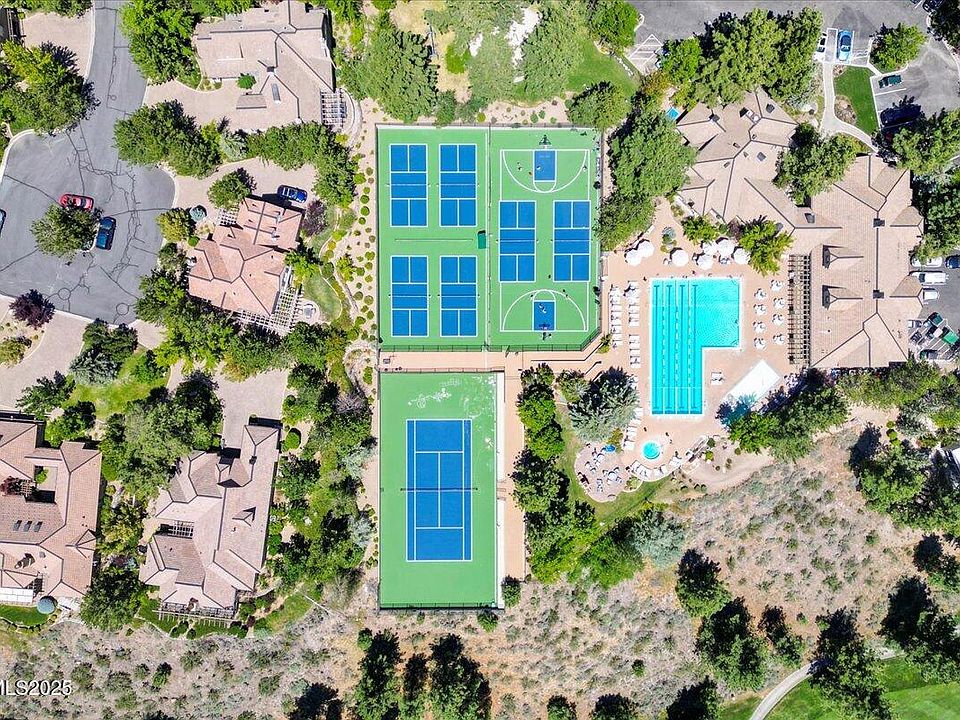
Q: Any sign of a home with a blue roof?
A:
No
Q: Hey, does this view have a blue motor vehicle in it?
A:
Yes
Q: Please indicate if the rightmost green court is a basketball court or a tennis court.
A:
basketball court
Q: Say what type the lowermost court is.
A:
tennis court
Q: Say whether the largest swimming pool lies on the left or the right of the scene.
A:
right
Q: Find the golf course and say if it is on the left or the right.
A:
right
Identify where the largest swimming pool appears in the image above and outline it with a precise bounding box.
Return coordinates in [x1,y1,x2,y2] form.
[649,276,743,417]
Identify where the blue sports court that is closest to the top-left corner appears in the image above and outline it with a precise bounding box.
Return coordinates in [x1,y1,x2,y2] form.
[387,144,429,226]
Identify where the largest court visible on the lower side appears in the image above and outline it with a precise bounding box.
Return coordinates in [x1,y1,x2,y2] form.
[379,373,497,608]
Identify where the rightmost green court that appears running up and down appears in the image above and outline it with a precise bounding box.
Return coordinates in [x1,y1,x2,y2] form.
[489,128,599,349]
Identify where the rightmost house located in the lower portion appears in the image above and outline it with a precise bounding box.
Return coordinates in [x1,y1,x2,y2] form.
[140,424,280,611]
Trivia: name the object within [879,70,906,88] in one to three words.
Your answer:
vehicle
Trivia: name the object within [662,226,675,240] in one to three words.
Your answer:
umbrella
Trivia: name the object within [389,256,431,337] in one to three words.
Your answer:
sports court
